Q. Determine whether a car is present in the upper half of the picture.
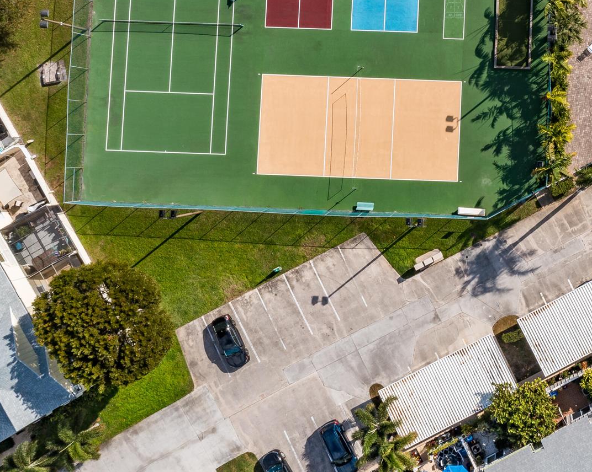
No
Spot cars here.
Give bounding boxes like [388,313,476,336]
[316,420,355,472]
[209,320,246,369]
[256,447,287,472]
